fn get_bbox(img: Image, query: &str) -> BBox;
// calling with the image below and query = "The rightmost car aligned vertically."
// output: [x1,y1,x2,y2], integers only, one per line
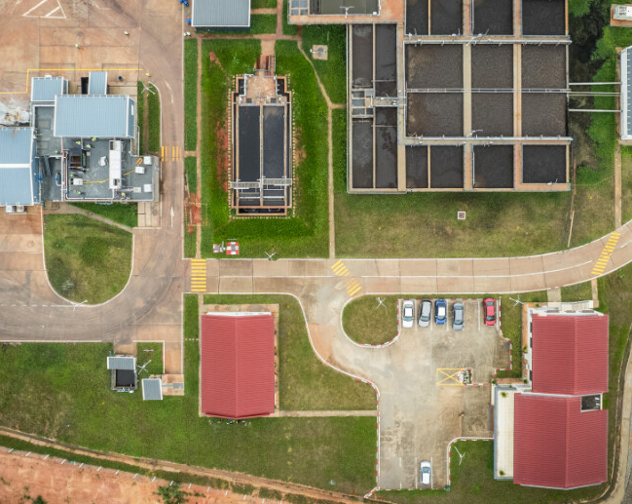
[482,297,496,326]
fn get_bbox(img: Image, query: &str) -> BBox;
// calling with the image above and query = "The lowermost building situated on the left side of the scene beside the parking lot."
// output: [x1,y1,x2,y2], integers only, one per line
[201,310,275,419]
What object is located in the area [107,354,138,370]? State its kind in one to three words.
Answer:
shed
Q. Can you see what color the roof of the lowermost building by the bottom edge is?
red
